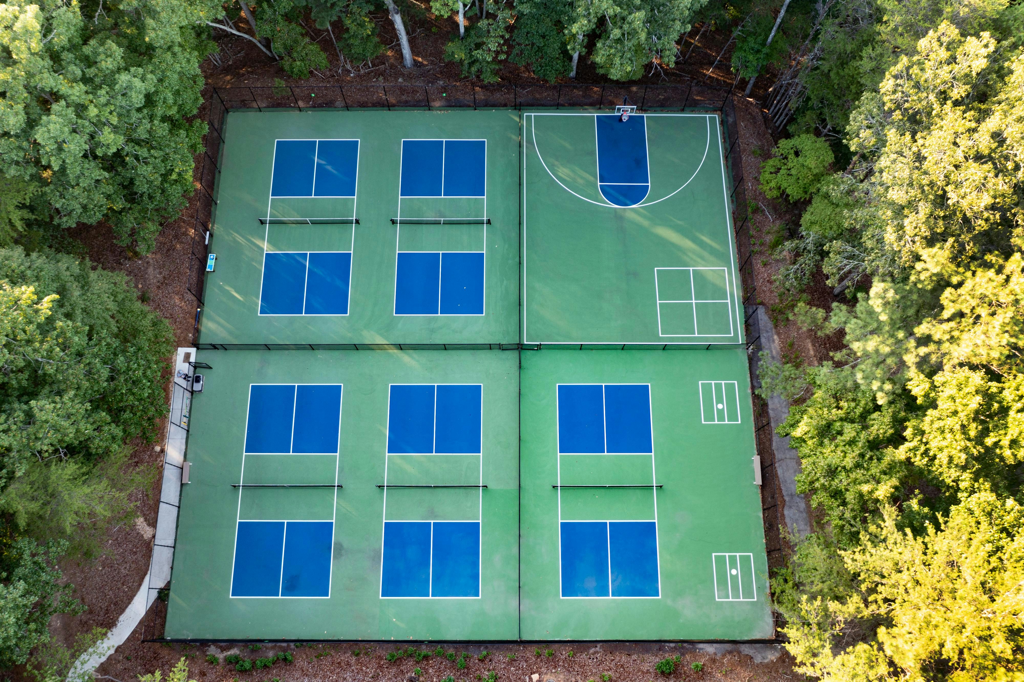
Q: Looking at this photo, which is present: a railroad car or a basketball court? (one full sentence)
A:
The image shows a basketball court.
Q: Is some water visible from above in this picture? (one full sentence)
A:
No, the scene doesn't show any water.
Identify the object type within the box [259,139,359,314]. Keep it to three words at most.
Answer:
sports court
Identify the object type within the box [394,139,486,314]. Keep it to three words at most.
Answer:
sports court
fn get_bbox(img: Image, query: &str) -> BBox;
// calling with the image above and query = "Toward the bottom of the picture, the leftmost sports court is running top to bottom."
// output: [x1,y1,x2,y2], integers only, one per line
[230,384,343,597]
